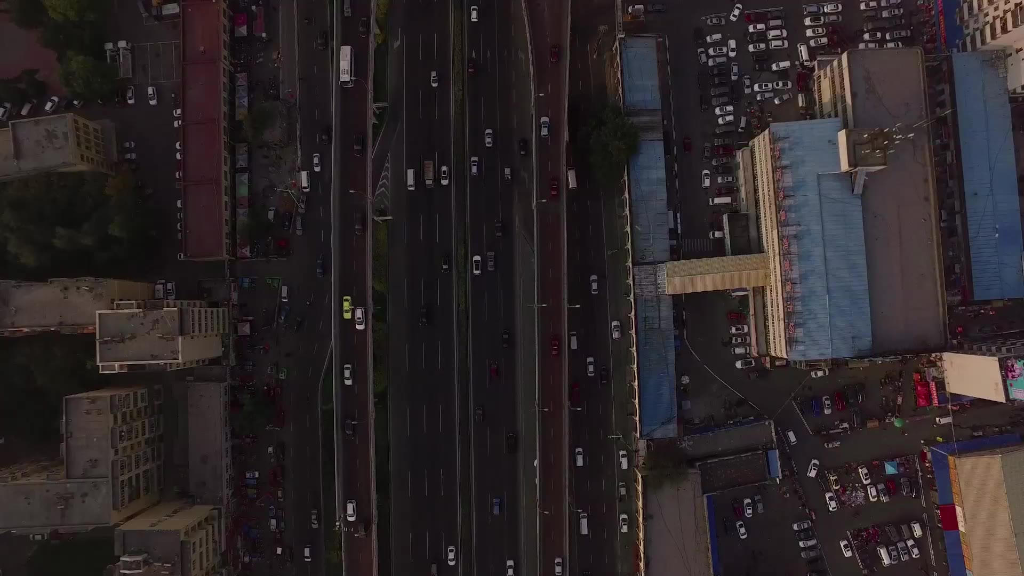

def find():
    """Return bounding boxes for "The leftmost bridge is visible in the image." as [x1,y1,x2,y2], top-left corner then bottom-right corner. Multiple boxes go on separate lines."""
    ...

[326,0,382,576]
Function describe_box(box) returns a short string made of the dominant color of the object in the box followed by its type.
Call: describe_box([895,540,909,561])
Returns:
gray car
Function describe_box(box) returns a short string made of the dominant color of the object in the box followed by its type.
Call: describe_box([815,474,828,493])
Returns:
black vehicle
